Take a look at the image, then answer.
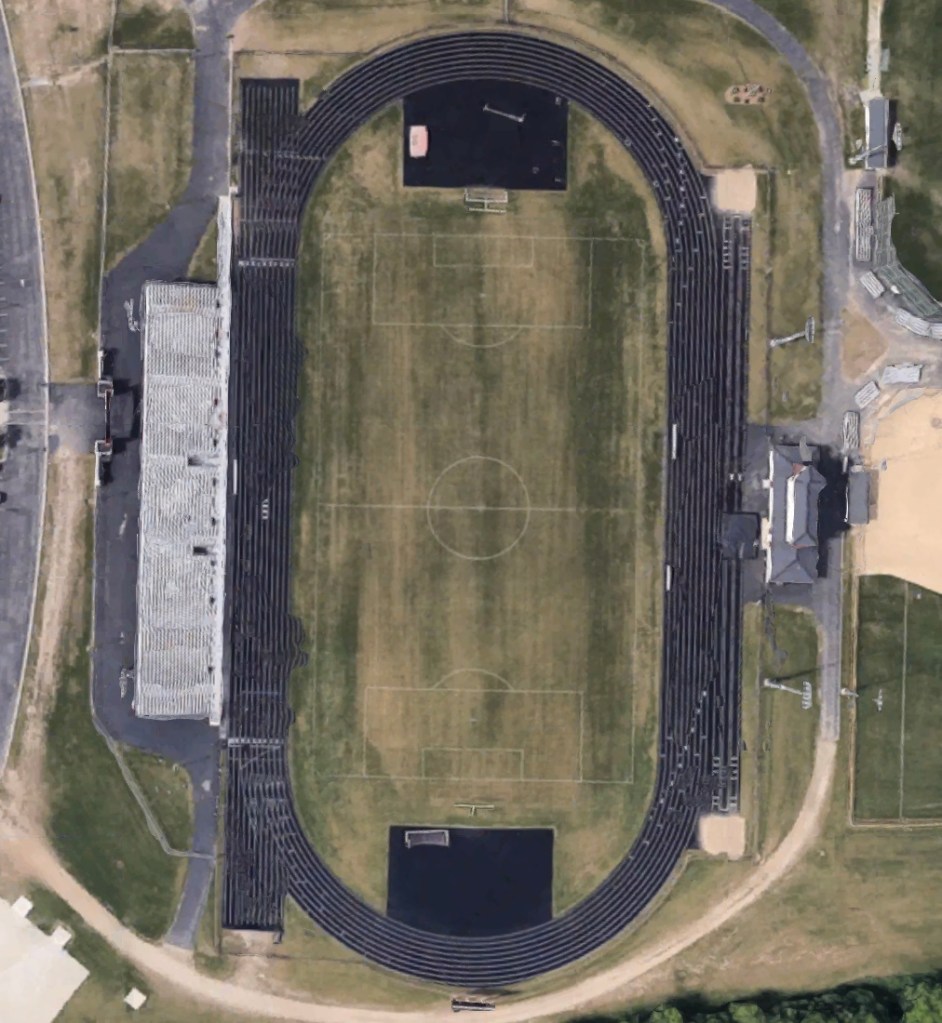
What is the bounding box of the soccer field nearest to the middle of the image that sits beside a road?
[292,99,665,918]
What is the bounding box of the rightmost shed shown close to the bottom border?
[123,989,146,1013]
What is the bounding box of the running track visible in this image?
[216,29,754,987]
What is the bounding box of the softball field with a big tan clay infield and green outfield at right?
[849,390,942,826]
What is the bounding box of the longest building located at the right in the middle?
[763,435,827,583]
